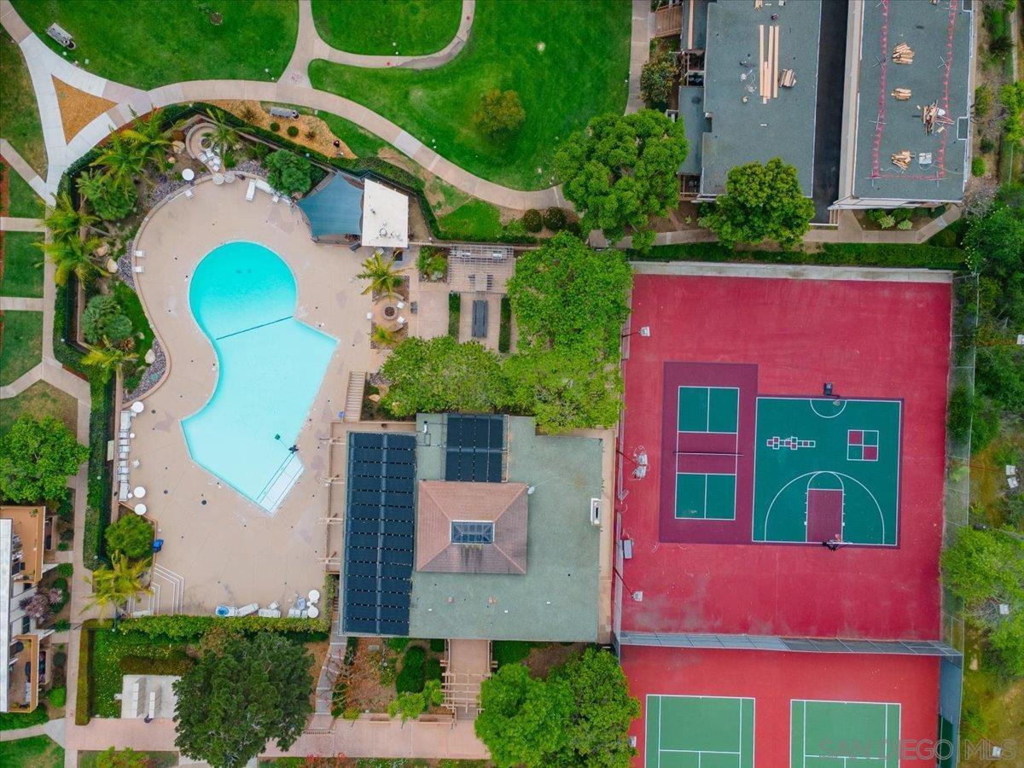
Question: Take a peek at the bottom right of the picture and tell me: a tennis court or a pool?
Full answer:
Visible at the bottom right of the picture is a tennis court.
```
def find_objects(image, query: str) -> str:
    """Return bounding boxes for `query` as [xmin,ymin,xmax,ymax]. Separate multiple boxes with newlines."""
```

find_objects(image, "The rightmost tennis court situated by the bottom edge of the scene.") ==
[789,700,901,768]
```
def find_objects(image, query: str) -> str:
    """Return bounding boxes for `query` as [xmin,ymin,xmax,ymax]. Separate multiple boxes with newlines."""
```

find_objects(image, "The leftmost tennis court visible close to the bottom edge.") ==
[644,695,756,768]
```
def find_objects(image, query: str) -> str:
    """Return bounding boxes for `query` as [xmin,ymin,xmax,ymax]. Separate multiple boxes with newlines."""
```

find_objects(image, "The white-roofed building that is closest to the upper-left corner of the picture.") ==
[361,178,411,250]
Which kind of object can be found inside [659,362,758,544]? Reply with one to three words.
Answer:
sports court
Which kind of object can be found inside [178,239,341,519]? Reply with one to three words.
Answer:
swimming pool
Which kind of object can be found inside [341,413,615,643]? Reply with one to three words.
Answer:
building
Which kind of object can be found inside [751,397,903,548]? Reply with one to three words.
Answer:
basketball court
